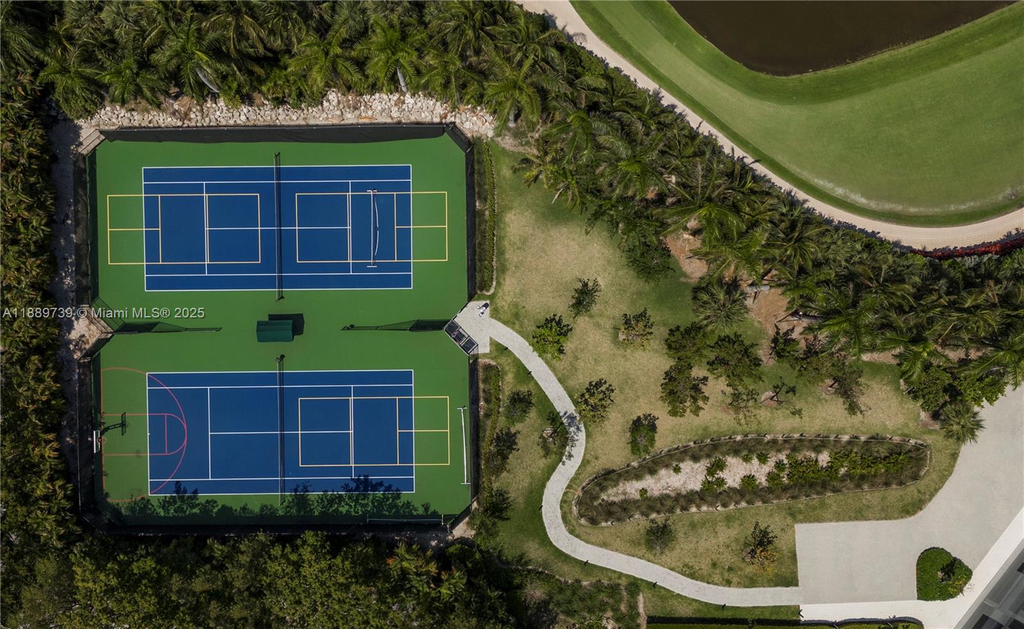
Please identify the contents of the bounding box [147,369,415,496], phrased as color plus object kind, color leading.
blue tennis court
